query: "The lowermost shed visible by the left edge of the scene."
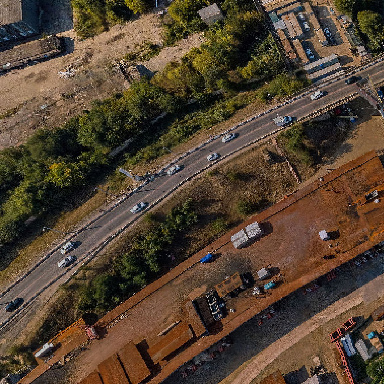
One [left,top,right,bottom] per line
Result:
[0,34,65,78]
